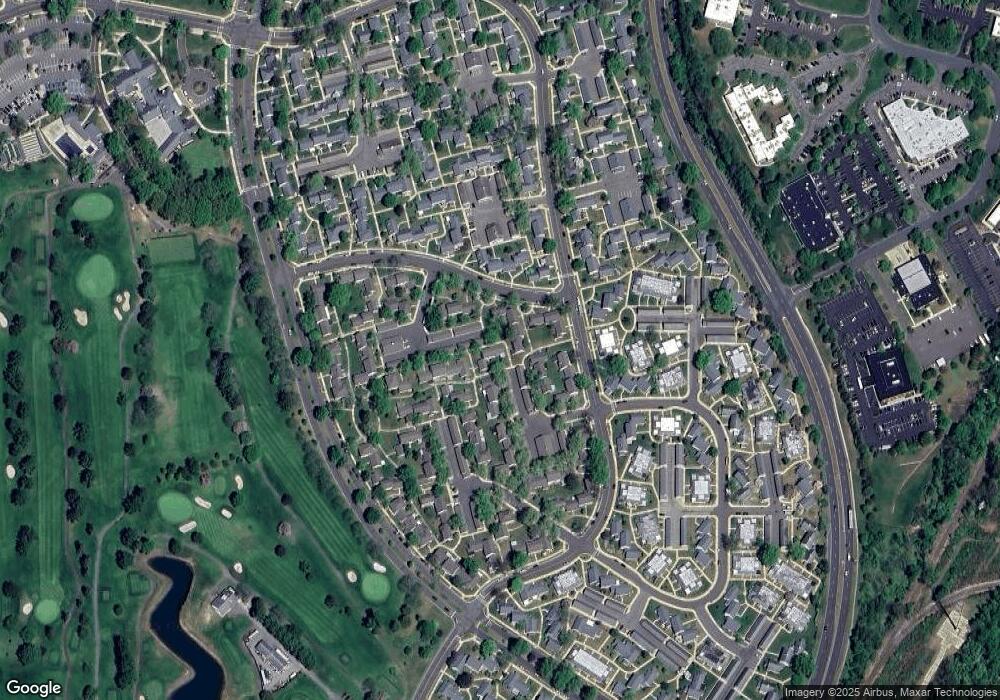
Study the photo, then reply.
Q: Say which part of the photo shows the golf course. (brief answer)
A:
left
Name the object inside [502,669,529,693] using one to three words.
house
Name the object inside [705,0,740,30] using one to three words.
building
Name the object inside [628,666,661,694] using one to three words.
house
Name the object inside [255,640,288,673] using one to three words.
barn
